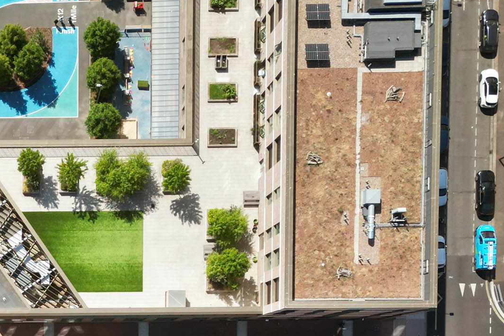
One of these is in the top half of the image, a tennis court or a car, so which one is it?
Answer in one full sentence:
What appears in the top half of the image is a car.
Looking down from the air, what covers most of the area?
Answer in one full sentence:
The scene is dominated by buildings.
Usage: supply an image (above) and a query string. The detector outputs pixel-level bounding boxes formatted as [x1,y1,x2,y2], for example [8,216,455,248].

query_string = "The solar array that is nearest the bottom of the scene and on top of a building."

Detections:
[304,43,330,62]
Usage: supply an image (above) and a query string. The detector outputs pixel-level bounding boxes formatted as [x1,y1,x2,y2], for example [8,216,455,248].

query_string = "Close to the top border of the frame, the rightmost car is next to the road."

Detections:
[478,12,502,56]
